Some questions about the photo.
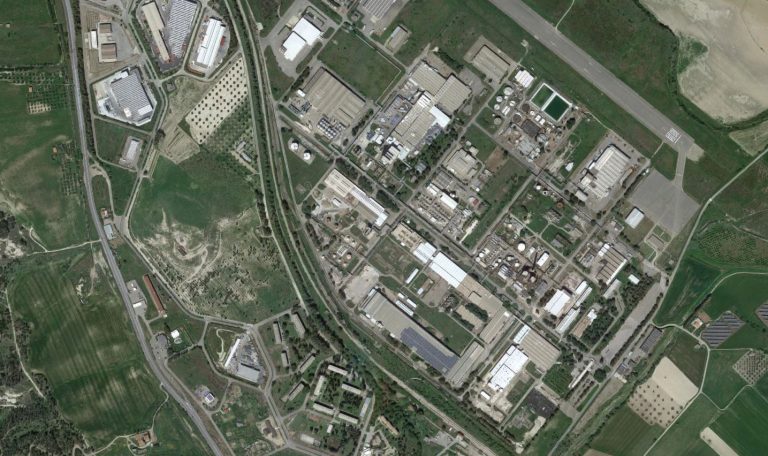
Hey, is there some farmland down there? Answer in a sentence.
Yes, there's farmland in this view.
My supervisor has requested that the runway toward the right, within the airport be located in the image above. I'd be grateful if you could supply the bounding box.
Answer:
[494,0,693,151]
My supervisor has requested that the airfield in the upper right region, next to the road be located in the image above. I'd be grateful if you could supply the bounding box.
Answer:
[489,0,705,236]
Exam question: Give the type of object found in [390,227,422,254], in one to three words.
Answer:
building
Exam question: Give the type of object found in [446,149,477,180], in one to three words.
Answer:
building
